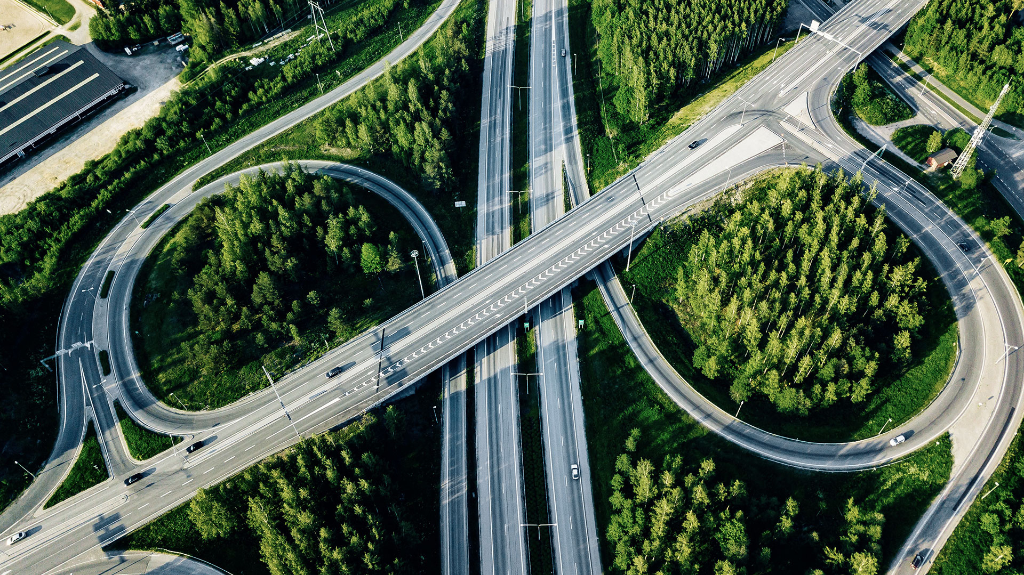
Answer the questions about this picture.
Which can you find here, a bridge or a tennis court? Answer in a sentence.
Visible in the photo is a bridge.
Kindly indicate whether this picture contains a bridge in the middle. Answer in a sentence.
Yes, looking in the middle, one can make out a bridge.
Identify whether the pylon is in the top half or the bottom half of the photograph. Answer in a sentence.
The pylon sits in the top half of the picture.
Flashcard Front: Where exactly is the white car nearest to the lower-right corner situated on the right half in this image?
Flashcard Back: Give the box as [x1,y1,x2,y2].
[889,433,907,445]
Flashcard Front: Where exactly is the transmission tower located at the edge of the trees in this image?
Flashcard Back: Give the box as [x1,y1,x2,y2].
[307,0,332,49]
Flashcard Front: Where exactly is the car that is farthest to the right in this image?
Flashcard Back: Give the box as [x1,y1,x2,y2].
[957,239,971,251]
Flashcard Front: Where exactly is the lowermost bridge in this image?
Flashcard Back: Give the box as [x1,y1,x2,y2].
[369,169,655,400]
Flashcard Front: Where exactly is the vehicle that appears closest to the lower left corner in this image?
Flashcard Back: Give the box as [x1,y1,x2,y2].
[5,530,24,544]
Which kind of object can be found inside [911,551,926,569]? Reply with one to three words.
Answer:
car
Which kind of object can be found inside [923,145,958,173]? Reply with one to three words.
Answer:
shed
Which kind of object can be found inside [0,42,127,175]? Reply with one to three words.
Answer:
building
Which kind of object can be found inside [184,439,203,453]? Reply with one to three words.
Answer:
car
